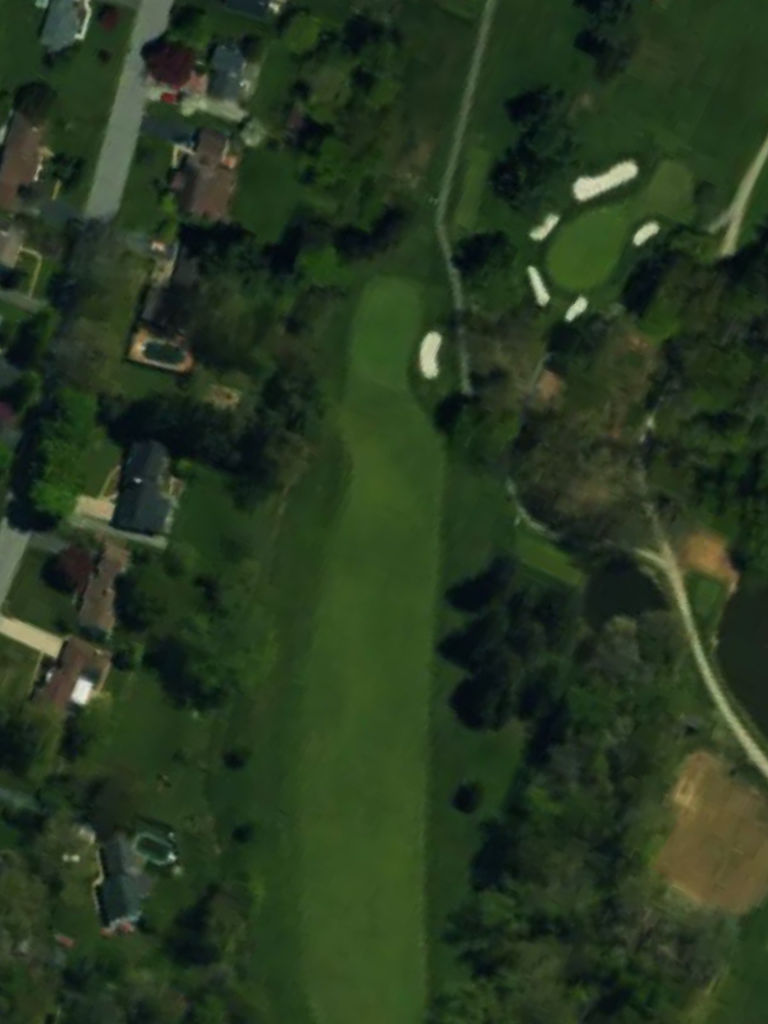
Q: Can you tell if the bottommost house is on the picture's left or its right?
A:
left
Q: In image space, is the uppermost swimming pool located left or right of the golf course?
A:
on the left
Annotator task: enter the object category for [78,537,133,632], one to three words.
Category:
house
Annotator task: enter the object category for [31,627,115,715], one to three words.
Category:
house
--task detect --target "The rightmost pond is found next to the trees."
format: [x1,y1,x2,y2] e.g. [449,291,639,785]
[717,560,768,735]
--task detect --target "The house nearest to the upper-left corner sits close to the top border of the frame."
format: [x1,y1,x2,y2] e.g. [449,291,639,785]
[37,0,80,53]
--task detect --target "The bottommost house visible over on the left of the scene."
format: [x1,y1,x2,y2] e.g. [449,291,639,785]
[97,831,153,927]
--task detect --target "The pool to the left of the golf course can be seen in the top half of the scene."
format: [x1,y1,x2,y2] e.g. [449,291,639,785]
[131,329,194,372]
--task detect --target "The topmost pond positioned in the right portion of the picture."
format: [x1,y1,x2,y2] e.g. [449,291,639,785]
[586,551,667,629]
